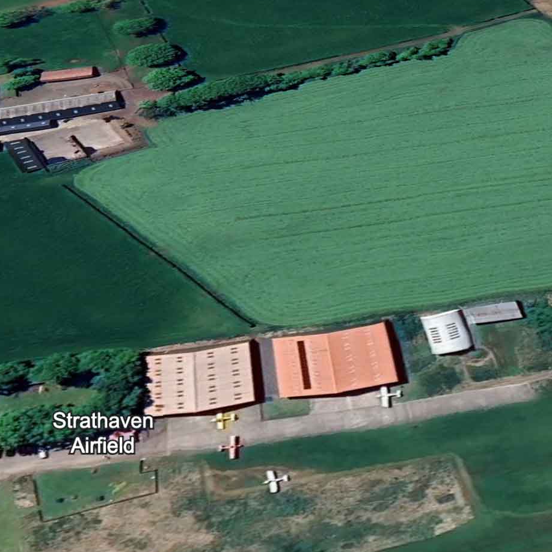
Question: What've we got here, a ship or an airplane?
airplane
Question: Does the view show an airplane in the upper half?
No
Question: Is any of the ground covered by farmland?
Yes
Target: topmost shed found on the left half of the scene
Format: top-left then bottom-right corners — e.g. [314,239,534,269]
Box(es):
[40,66,96,85]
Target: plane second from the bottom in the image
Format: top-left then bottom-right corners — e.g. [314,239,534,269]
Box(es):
[220,433,244,459]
